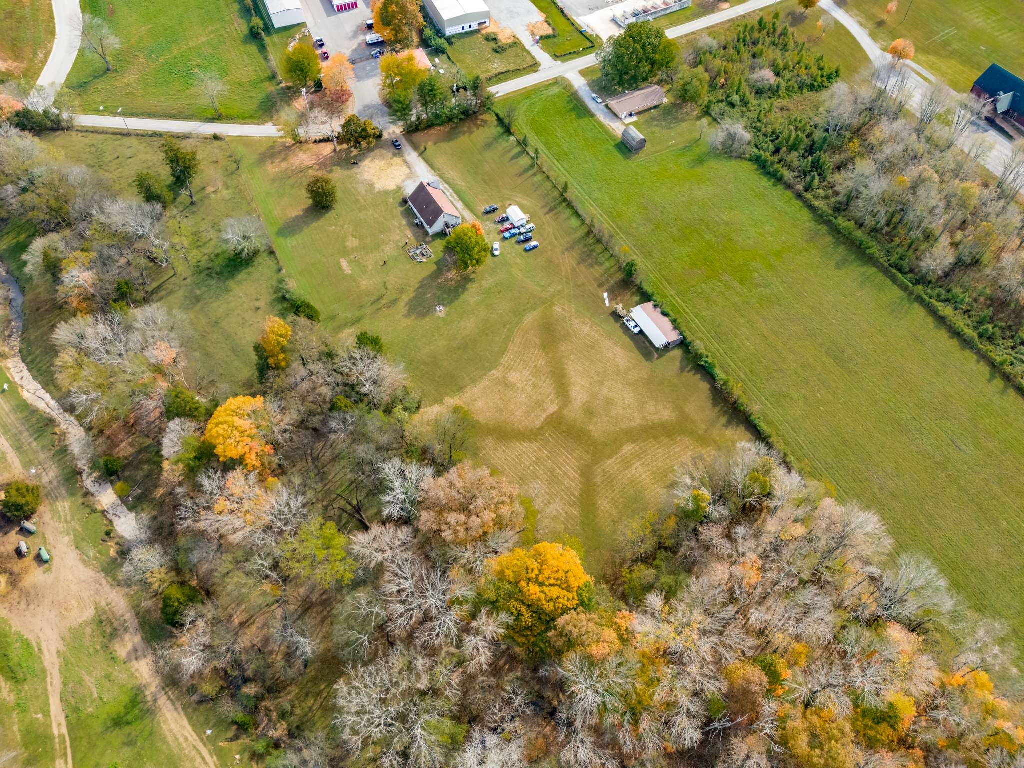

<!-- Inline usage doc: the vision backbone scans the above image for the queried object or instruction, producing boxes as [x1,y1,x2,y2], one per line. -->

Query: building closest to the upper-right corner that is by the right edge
[971,65,1024,130]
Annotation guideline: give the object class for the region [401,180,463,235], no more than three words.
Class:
house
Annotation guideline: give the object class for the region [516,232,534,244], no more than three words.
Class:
vehicle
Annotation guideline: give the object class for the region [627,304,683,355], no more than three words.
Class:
shed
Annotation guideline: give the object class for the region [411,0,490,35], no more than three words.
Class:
building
